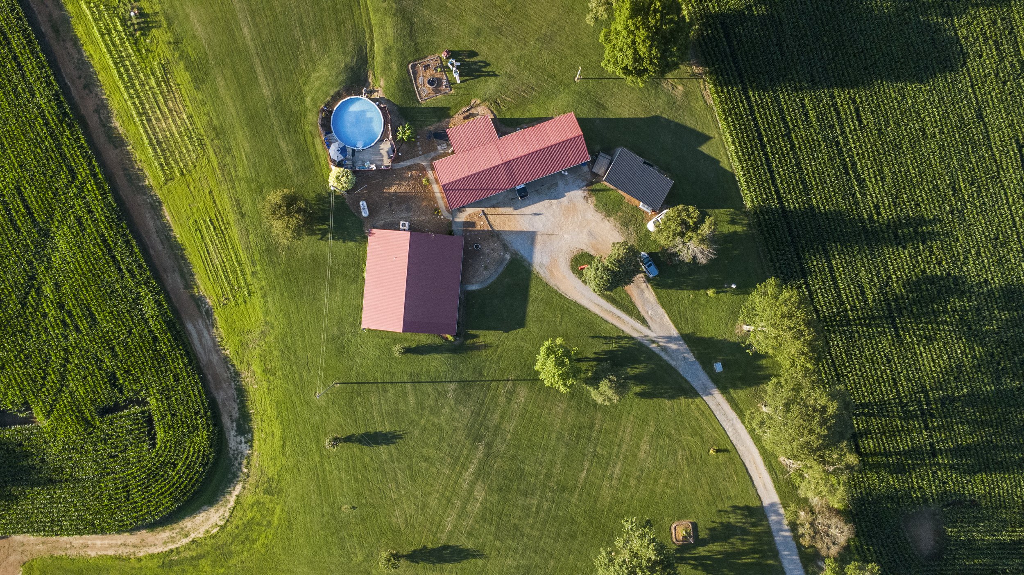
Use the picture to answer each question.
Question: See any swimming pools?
Yes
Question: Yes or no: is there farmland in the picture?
Yes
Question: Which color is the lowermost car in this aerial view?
blue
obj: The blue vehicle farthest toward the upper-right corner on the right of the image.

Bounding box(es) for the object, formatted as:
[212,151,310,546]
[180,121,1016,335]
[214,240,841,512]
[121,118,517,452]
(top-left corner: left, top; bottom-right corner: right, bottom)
[639,251,662,281]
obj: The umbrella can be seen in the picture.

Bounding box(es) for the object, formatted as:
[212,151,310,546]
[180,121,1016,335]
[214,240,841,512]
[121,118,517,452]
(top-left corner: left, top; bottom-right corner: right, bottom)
[330,142,348,160]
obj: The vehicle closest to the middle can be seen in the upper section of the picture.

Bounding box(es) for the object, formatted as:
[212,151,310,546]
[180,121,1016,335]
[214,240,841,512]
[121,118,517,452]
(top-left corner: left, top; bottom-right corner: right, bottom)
[514,184,532,205]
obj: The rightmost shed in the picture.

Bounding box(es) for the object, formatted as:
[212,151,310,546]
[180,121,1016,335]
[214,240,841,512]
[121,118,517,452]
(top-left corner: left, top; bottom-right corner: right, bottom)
[603,148,675,212]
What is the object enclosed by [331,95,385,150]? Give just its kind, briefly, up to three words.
swimming pool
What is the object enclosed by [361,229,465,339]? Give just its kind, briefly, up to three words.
building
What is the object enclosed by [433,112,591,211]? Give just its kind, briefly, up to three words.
house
